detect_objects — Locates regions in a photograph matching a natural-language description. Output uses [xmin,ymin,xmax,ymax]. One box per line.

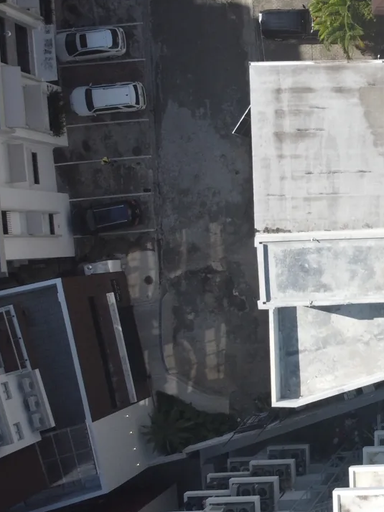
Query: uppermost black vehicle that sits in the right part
[255,6,317,41]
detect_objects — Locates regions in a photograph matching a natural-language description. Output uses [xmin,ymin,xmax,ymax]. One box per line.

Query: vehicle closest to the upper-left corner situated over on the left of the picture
[57,26,131,62]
